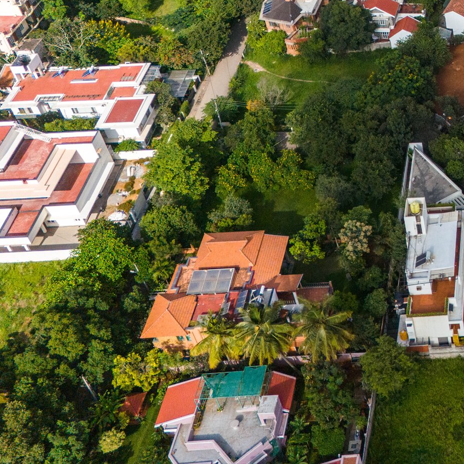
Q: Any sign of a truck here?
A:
No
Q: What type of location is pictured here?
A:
residential area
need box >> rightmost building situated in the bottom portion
[391,199,464,361]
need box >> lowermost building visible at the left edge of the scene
[0,122,118,250]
